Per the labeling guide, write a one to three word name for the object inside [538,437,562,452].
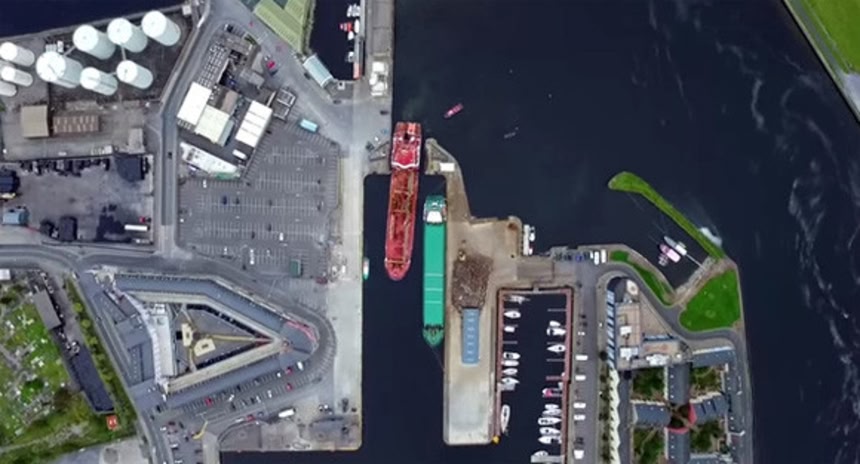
boat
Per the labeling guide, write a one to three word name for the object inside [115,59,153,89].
storage tank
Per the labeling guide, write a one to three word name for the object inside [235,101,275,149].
building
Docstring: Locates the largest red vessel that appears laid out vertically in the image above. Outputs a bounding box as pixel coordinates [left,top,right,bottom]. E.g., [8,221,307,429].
[385,121,422,281]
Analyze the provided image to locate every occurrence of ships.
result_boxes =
[385,121,422,281]
[422,195,447,348]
